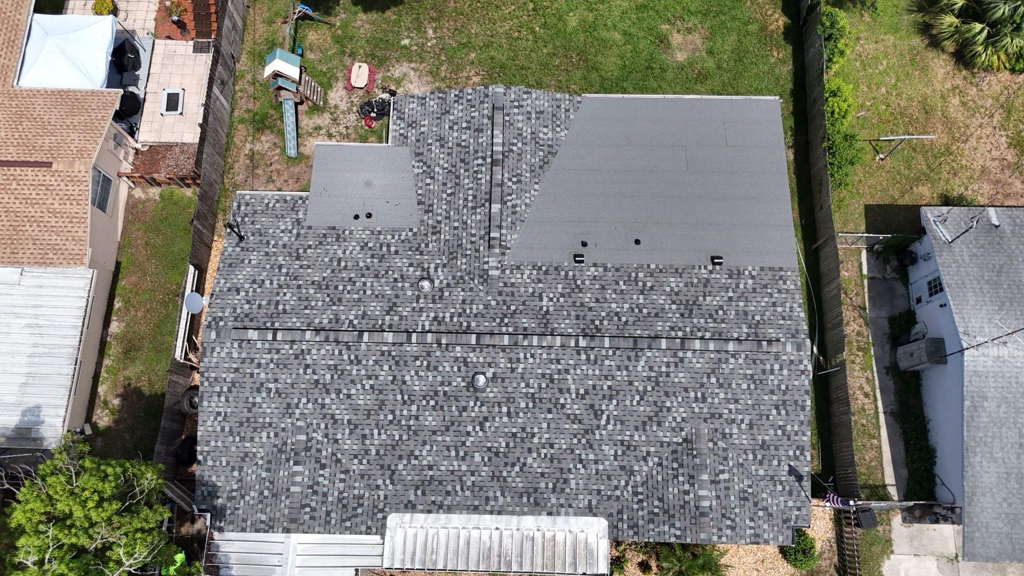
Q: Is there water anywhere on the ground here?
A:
No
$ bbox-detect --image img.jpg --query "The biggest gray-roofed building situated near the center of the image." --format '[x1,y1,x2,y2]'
[193,86,814,549]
